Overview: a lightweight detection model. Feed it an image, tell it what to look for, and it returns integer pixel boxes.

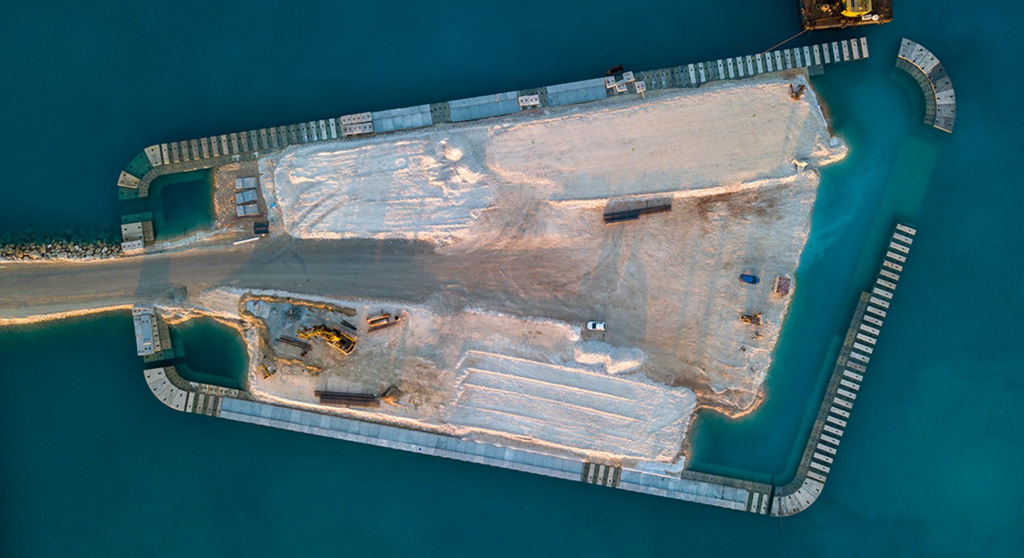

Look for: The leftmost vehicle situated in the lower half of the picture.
[293,324,356,357]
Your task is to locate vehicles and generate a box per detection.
[293,324,356,357]
[587,321,606,330]
[741,274,761,284]
[741,315,762,325]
